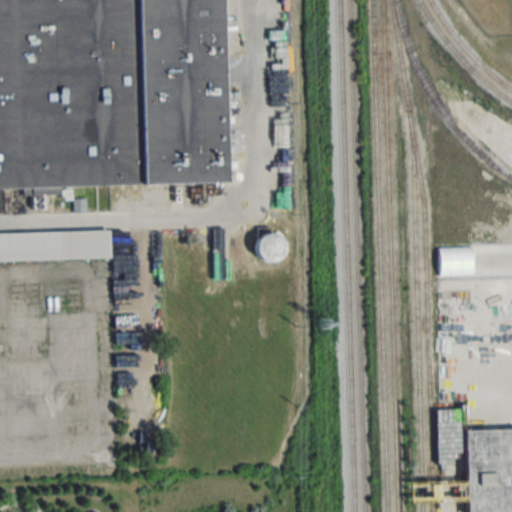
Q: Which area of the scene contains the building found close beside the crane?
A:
bottom right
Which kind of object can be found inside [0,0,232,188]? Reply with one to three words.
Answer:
warehouse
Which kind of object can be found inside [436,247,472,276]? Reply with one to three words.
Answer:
building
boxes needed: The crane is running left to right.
[412,480,468,504]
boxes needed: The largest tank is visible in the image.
[254,232,288,264]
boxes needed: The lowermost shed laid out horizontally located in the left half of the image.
[0,230,110,262]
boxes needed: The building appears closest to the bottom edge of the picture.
[462,428,512,512]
